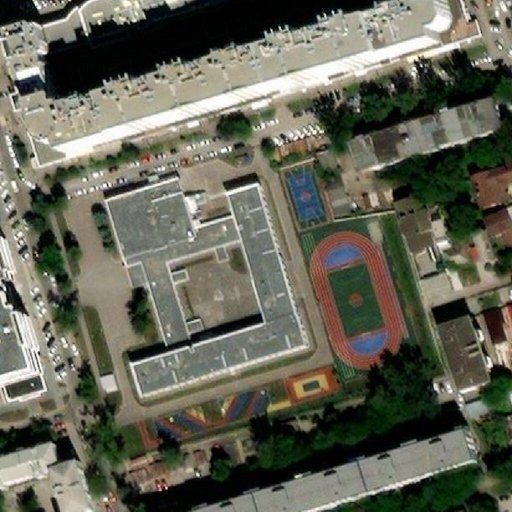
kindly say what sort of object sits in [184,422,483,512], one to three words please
building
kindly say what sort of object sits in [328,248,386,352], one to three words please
soccer field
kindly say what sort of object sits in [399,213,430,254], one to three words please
house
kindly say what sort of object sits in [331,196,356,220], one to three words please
shed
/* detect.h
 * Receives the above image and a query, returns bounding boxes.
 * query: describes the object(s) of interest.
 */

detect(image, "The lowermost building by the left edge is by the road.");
[0,444,97,512]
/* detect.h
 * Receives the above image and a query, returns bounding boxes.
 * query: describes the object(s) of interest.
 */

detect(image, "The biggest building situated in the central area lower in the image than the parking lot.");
[106,174,308,398]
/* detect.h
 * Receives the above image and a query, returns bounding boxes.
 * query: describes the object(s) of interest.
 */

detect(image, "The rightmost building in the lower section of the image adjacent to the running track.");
[438,316,490,392]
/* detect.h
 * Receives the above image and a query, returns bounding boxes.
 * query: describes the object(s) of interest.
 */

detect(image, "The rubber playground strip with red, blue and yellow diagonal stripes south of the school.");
[138,390,291,448]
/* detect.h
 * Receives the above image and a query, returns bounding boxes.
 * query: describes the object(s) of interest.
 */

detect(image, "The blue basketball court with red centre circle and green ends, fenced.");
[281,159,331,231]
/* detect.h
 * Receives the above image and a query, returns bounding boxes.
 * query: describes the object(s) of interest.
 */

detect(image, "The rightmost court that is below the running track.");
[286,368,342,403]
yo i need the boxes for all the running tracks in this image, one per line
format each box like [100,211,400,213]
[311,230,403,370]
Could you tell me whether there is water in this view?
No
